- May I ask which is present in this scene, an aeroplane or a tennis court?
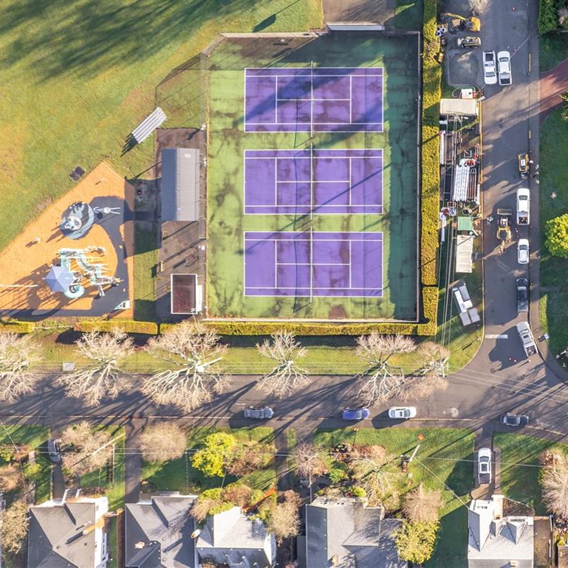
tennis court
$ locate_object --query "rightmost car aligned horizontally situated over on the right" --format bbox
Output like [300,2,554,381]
[501,413,529,427]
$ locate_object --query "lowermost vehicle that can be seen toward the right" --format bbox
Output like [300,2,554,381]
[477,448,491,485]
